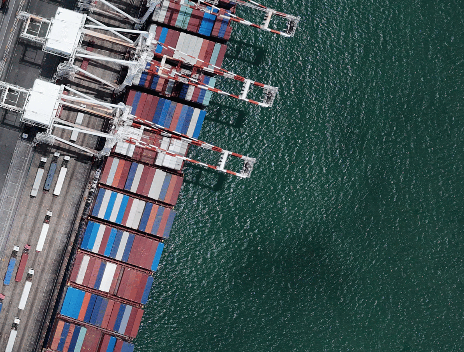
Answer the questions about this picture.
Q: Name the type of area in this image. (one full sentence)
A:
This looks like a port.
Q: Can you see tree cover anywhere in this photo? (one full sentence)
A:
No, no tree cover is visible.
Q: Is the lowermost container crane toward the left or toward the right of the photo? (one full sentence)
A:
The lowermost container crane is on the left side of the image.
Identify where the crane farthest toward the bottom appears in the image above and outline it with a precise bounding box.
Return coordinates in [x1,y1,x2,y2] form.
[0,69,261,181]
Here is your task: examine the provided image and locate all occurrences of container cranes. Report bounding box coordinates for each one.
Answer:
[82,0,304,41]
[15,0,283,111]
[0,69,261,181]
